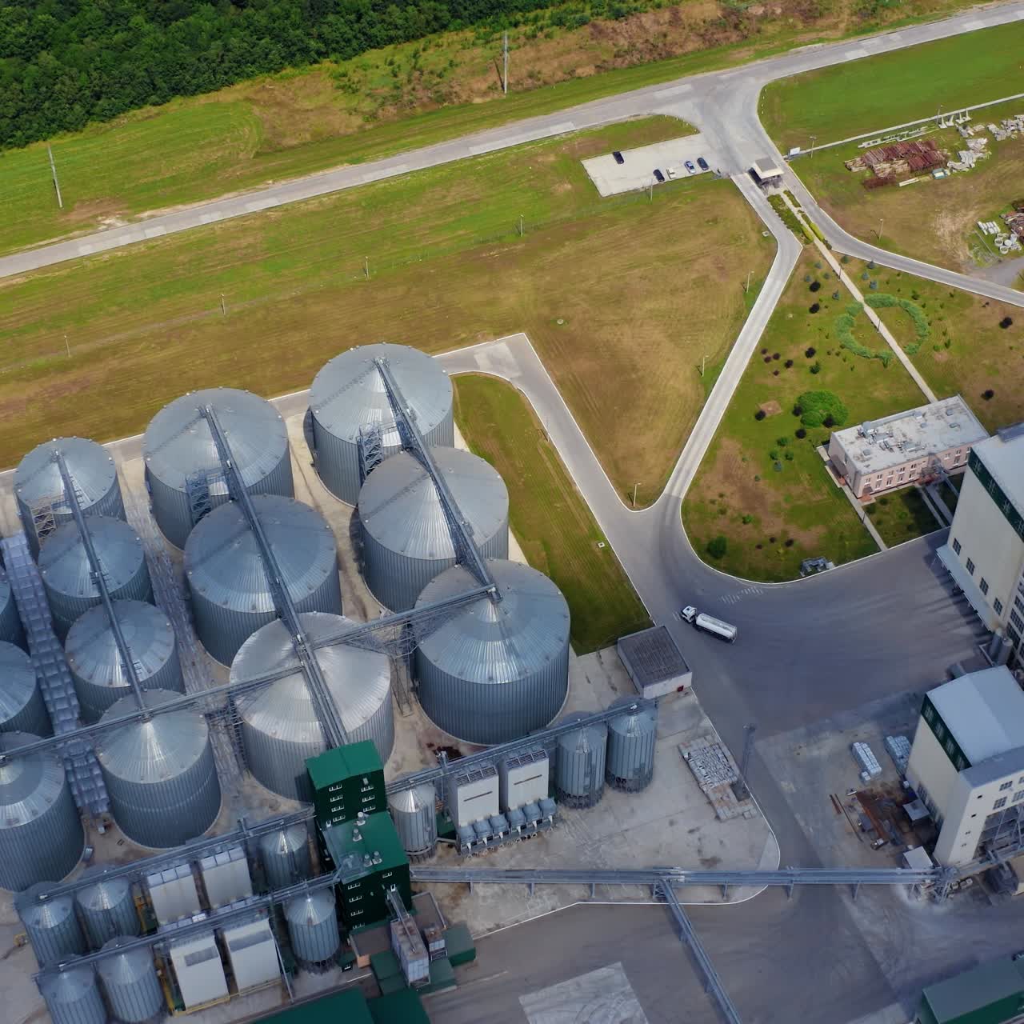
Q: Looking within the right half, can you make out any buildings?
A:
Yes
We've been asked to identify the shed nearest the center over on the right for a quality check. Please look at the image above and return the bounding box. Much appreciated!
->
[618,623,690,697]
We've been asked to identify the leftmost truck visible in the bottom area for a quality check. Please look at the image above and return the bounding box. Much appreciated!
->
[680,603,741,643]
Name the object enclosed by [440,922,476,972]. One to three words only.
building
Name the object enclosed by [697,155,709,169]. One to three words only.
vehicle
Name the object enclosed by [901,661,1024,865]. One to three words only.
building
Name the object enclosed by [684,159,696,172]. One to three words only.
vehicle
